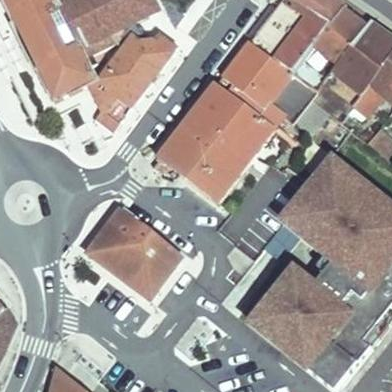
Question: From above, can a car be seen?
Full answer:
Yes, I can see a car in this picture.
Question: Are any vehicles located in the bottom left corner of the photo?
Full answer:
Yes, there is a vehicle in the bottom left corner of the photo.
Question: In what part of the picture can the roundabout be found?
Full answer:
You can find the roundabout in the left area of the picture.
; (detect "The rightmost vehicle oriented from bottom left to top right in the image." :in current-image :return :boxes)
[270,188,288,208]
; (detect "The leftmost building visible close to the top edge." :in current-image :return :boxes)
[3,0,99,102]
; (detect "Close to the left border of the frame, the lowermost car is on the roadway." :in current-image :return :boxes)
[16,354,28,377]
